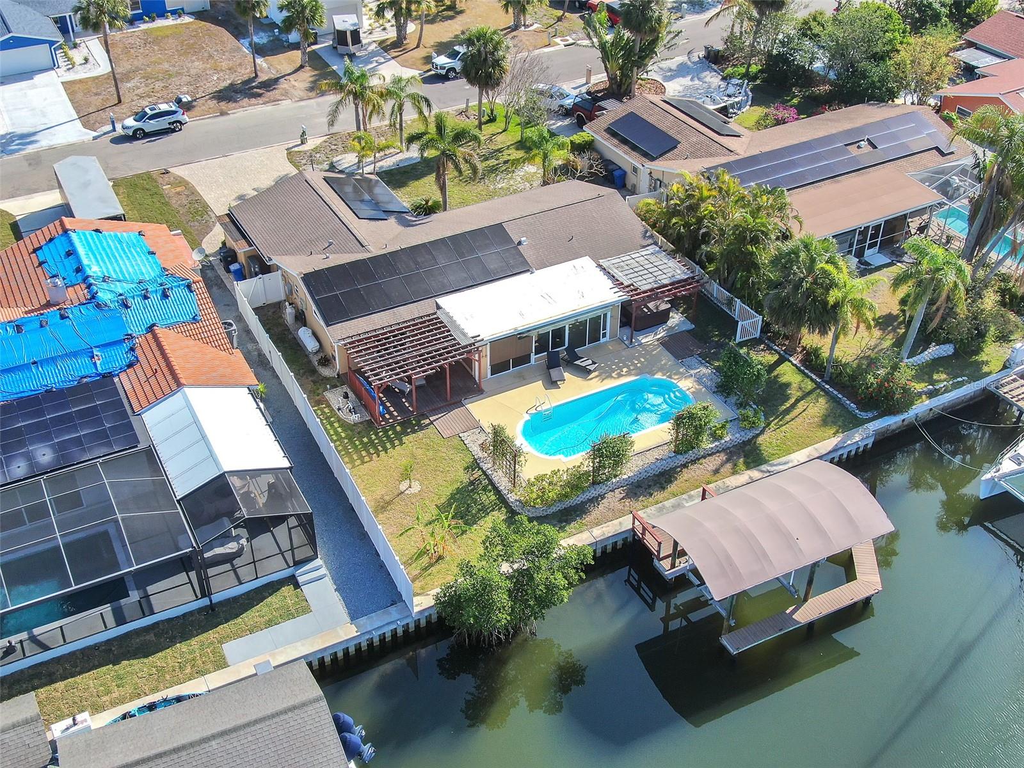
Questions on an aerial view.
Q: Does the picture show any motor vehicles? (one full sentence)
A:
Yes, the frame does contain a motor vehicle.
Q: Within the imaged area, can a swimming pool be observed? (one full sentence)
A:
Yes, the image includes a swimming pool.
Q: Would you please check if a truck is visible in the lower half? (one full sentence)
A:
No, looking in the lower half, there is no truck.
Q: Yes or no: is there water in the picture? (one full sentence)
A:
Yes, water shows up in the scene.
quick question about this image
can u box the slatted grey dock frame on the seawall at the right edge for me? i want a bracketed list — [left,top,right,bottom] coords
[987,370,1024,427]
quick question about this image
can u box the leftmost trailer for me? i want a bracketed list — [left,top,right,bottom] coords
[53,157,127,220]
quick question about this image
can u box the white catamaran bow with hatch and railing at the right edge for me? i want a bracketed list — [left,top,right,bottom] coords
[980,433,1024,494]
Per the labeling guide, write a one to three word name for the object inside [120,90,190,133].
car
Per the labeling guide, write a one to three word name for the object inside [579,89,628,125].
truck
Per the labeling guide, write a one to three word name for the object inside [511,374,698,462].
swimming pool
